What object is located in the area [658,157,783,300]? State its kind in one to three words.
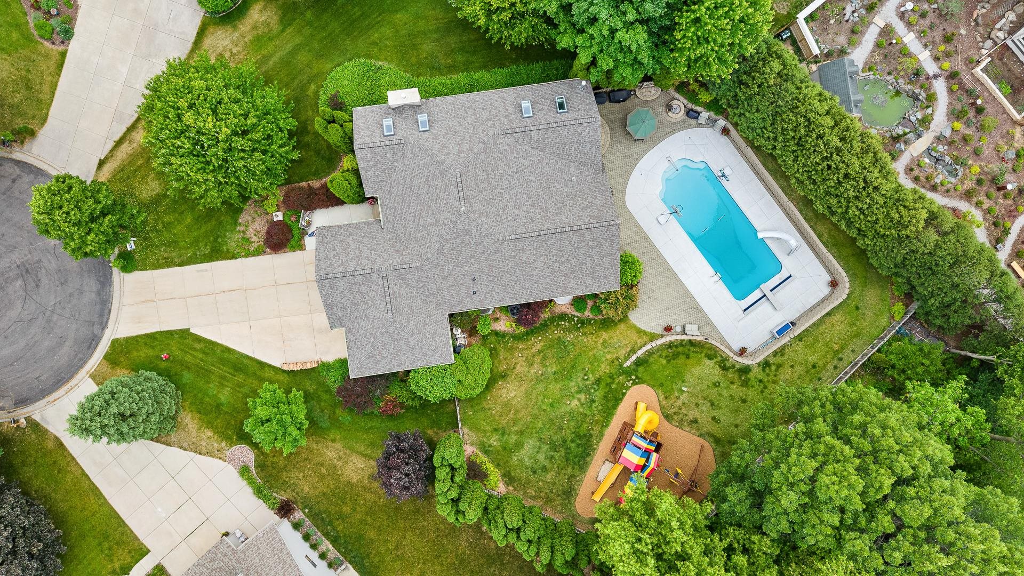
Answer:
swimming pool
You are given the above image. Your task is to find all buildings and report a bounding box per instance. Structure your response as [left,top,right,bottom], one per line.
[816,58,866,113]
[314,77,621,378]
[177,514,342,576]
